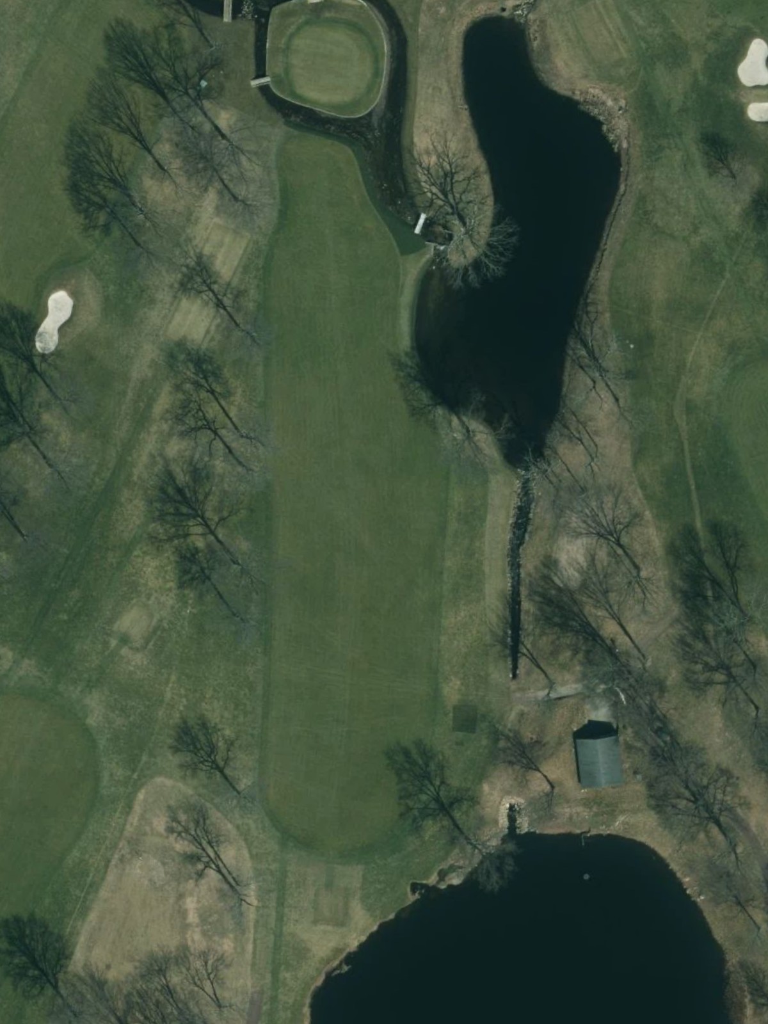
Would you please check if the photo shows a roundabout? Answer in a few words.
No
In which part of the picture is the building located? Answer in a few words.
bottom right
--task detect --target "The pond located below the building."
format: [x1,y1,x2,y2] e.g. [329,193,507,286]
[310,803,733,1024]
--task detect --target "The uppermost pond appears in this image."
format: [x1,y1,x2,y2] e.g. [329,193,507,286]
[415,15,621,474]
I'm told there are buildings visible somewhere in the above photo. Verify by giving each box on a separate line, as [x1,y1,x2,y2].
[576,735,623,789]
